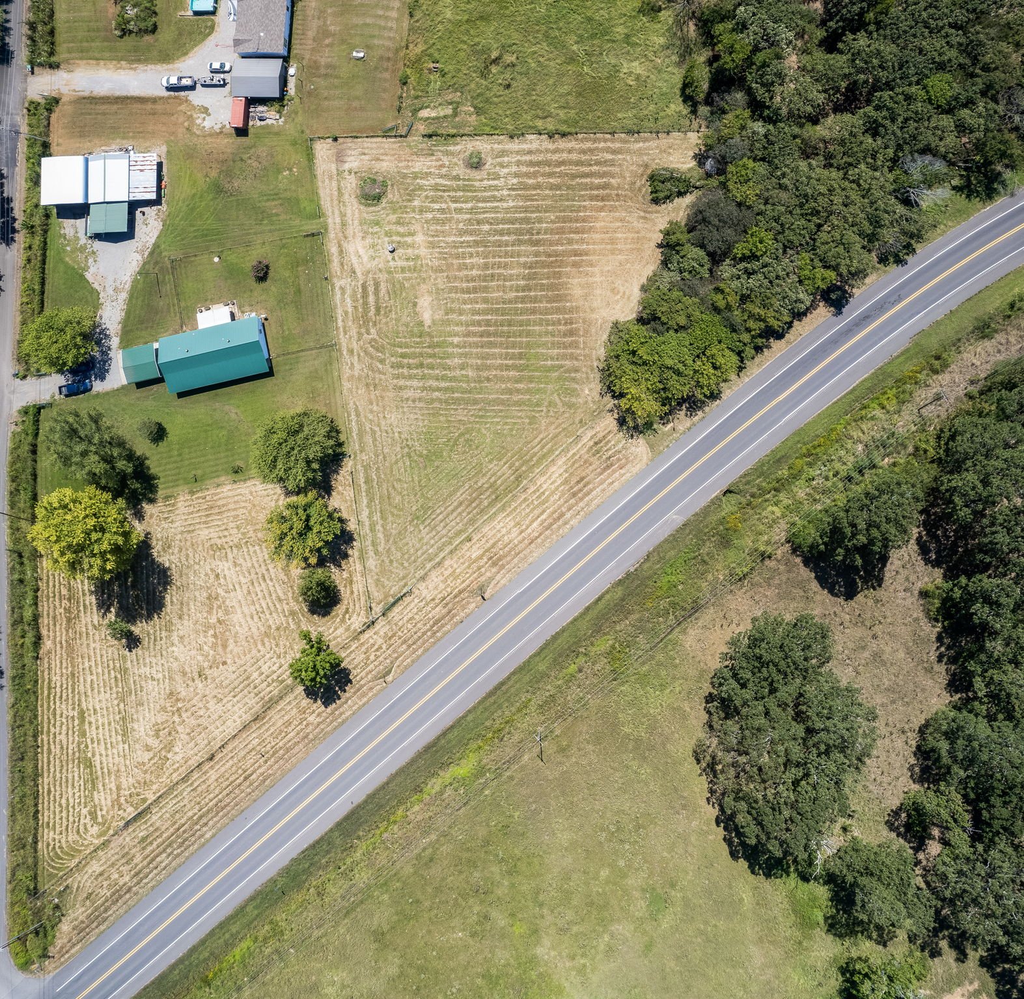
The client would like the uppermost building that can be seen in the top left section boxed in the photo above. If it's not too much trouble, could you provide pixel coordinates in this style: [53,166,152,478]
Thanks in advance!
[233,0,290,56]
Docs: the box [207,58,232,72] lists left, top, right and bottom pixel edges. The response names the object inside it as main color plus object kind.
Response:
white car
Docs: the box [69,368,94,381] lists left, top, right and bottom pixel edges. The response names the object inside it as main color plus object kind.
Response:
black vehicle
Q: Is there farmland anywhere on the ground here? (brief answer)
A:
Yes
